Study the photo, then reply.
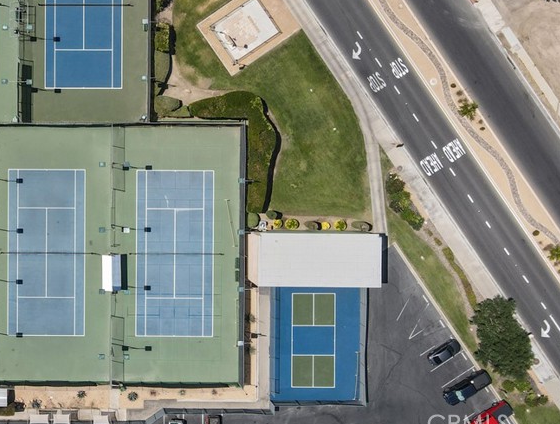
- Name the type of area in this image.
sports ground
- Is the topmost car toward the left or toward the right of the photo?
right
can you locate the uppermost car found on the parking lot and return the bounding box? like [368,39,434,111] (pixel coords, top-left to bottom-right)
[427,339,460,364]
